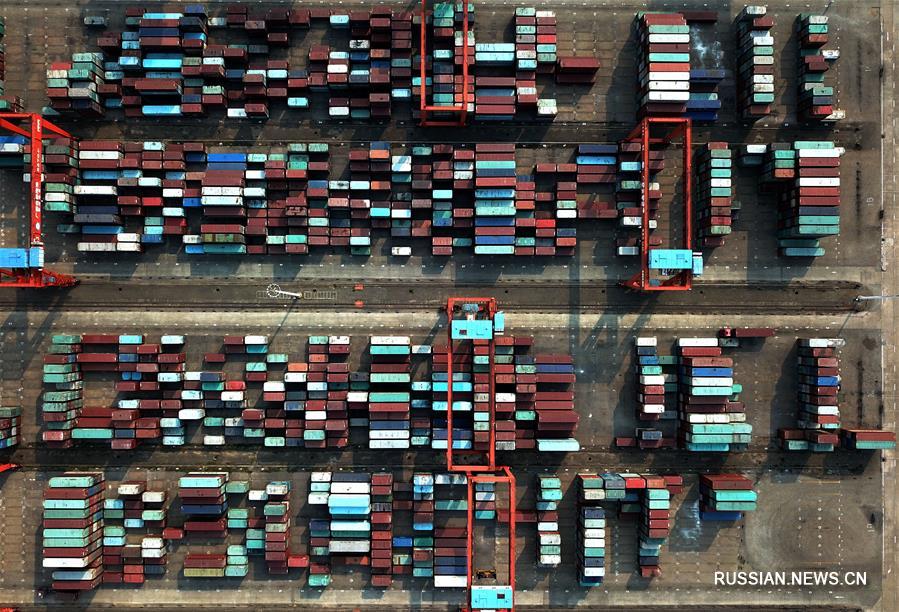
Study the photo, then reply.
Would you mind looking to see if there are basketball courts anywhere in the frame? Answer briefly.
No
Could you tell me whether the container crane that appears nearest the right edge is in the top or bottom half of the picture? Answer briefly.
top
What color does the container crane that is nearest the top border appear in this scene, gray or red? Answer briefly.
red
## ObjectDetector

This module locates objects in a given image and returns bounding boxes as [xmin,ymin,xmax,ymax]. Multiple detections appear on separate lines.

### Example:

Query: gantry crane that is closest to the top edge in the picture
[421,0,470,126]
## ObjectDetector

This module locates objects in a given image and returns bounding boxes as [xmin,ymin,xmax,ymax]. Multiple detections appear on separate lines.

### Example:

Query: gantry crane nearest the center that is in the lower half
[442,298,505,471]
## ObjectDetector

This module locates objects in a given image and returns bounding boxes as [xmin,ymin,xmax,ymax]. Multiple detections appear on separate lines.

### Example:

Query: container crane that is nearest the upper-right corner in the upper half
[619,116,703,291]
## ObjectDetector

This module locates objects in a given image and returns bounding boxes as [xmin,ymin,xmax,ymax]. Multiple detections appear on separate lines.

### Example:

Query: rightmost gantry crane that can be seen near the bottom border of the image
[461,464,518,612]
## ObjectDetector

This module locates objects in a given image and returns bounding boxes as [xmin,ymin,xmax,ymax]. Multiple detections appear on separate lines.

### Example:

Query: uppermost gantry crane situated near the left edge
[0,115,86,288]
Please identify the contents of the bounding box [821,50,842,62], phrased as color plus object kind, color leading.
white vehicle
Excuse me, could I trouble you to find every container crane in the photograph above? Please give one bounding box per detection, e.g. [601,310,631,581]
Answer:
[619,116,703,291]
[421,0,470,126]
[442,298,505,471]
[0,115,86,288]
[461,464,518,612]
